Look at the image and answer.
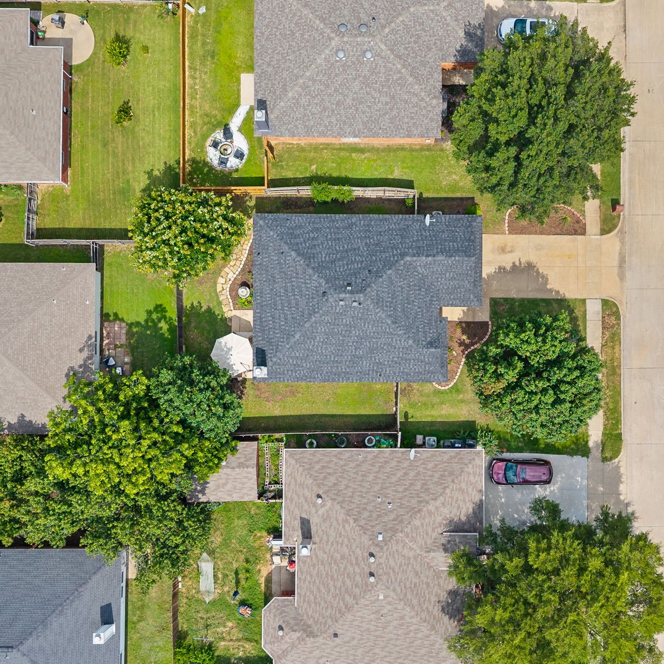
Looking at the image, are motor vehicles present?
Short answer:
Yes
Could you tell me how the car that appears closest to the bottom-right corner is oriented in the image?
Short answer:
from left to right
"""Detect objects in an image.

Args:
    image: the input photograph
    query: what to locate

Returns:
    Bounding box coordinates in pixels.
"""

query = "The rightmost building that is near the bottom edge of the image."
[260,447,486,664]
